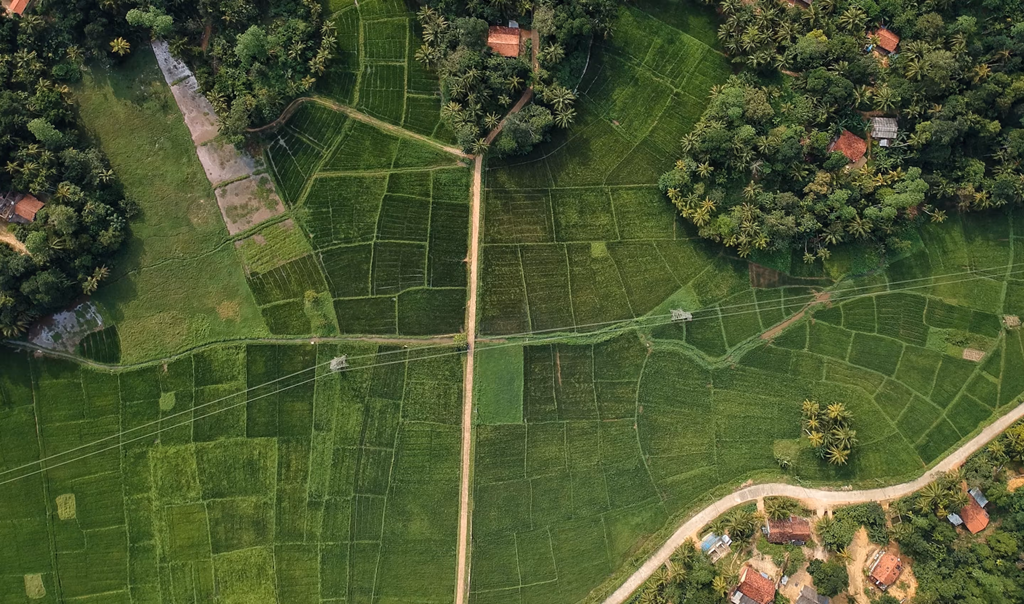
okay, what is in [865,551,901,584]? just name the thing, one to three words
house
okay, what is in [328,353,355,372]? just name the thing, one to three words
pylon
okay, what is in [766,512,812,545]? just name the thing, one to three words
house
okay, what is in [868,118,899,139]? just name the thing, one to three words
building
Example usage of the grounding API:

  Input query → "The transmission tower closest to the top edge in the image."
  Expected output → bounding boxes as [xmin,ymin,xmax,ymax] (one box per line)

[666,308,692,323]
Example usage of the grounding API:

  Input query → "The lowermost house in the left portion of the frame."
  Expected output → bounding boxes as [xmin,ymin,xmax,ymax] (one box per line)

[0,190,49,225]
